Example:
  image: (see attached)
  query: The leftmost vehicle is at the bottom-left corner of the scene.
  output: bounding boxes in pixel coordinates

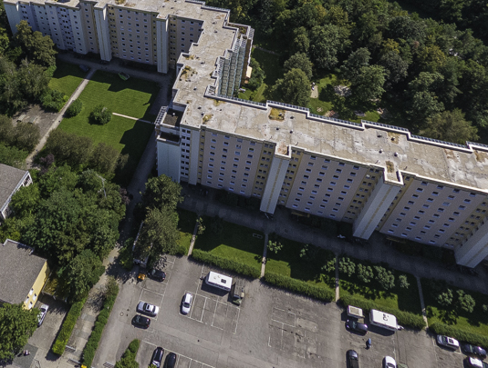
[34,304,48,326]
